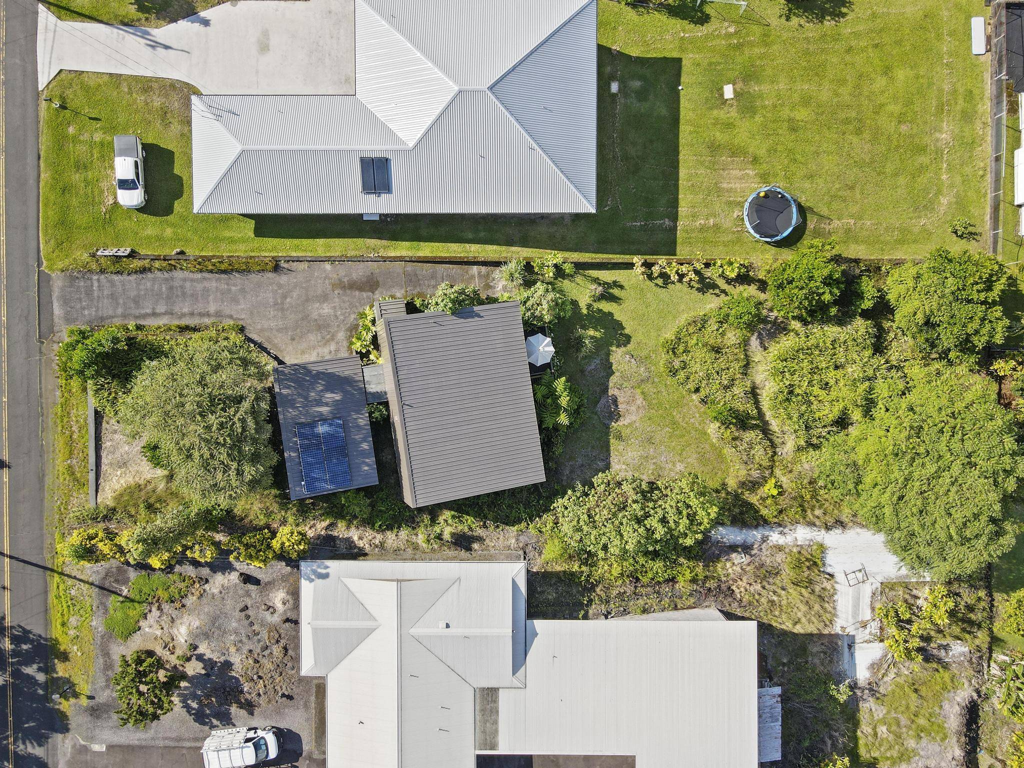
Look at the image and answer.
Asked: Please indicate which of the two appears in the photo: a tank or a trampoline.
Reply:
trampoline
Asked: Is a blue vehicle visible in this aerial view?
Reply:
No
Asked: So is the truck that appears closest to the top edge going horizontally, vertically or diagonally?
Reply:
vertically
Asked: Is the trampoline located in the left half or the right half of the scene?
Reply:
right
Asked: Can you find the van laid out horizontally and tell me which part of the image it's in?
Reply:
bottom left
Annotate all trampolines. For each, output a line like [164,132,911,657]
[743,179,808,242]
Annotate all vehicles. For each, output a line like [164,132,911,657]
[113,134,151,209]
[201,726,280,768]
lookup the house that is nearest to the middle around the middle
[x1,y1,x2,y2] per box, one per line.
[374,298,545,508]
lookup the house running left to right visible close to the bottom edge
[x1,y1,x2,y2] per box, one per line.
[299,560,760,768]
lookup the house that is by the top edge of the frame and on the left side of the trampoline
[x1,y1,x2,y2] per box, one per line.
[191,0,598,216]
